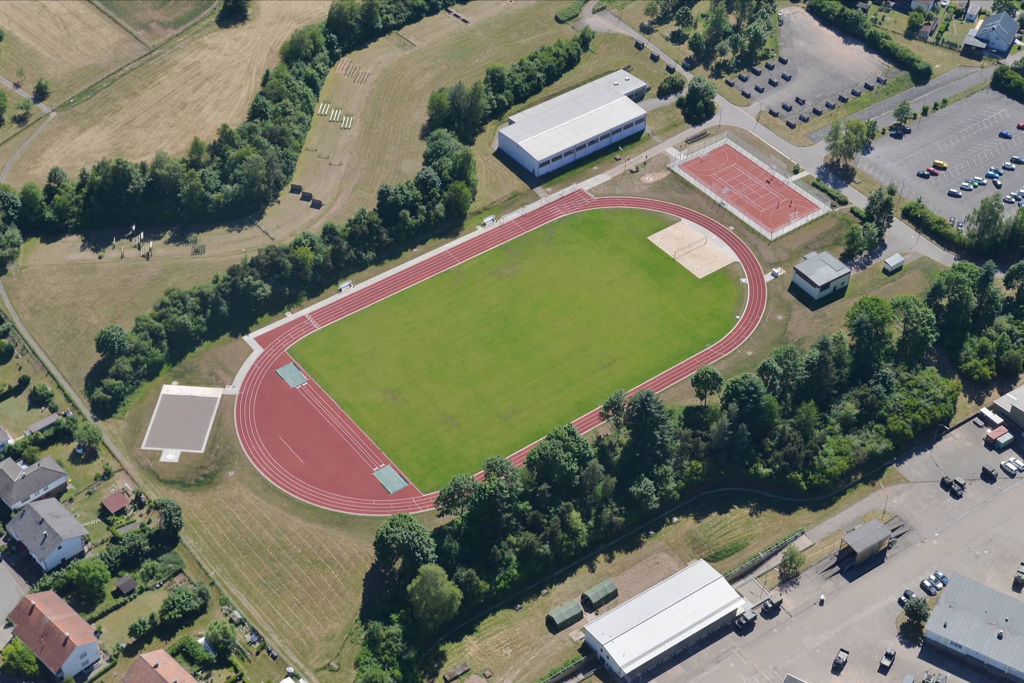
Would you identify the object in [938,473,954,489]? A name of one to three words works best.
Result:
vehicle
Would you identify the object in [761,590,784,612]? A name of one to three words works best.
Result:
truck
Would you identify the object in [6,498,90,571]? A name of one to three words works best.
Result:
house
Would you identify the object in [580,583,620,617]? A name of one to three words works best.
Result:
tent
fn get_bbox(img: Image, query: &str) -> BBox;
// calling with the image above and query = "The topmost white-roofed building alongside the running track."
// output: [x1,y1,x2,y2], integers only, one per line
[498,67,647,177]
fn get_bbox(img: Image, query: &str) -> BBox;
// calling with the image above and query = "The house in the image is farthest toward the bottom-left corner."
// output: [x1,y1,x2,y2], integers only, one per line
[8,591,99,678]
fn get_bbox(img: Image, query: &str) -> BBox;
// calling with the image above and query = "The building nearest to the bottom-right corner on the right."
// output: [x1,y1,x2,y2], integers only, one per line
[923,572,1024,683]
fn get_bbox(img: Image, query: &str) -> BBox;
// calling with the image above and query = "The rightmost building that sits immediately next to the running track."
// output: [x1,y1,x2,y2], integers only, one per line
[789,251,852,300]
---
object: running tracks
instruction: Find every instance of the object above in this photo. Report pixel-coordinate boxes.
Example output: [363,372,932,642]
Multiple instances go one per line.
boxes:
[234,187,766,515]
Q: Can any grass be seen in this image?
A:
Yes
